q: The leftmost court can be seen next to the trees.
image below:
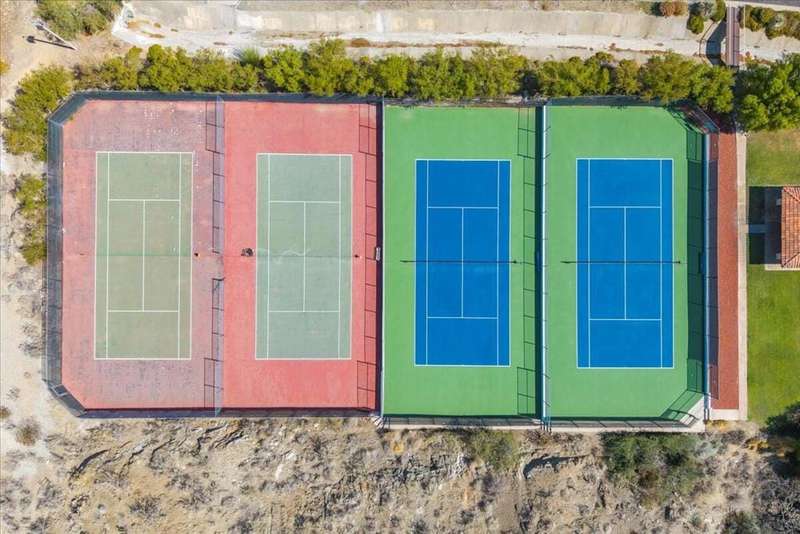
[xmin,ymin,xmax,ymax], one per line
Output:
[62,101,224,409]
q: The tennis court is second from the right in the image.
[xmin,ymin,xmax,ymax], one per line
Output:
[384,105,541,417]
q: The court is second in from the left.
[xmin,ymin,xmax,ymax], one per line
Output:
[224,101,382,409]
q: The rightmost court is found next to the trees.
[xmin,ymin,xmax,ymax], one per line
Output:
[545,105,705,420]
